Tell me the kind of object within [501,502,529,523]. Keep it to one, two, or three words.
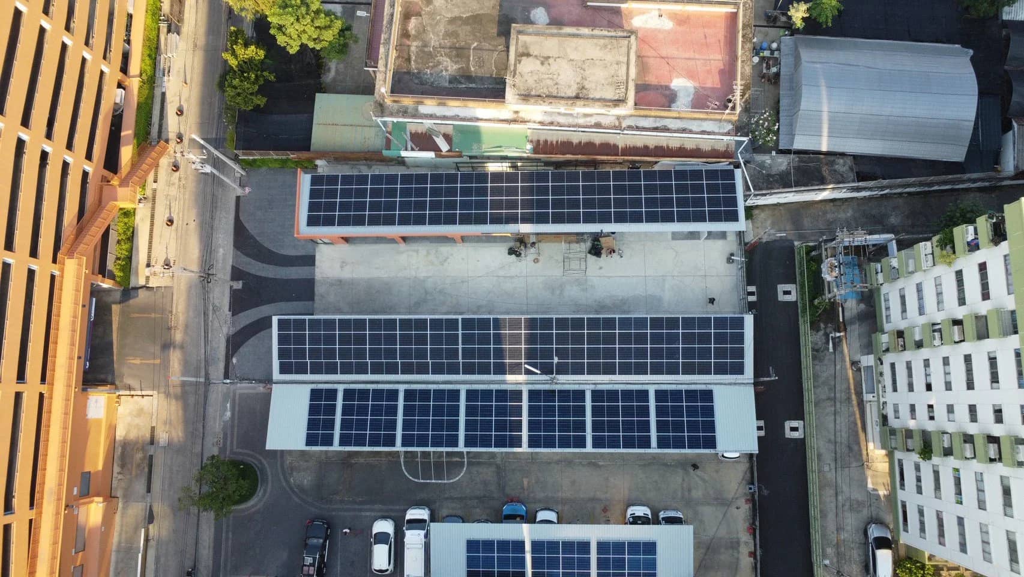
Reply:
car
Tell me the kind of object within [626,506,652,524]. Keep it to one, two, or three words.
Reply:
vehicle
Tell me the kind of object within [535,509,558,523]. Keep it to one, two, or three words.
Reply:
car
